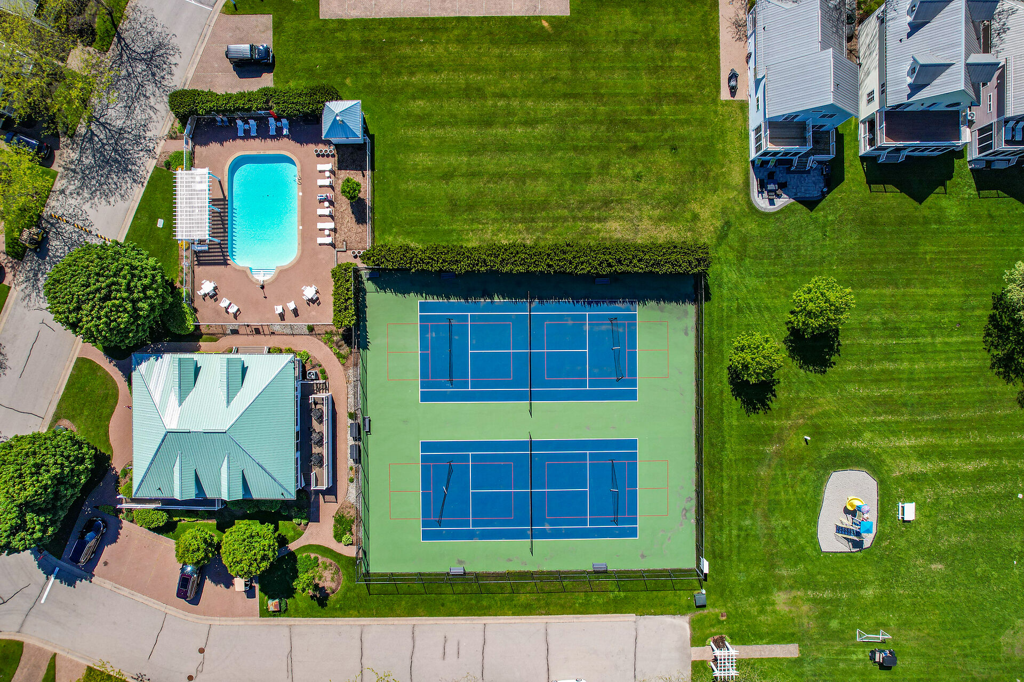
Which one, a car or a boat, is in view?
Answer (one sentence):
The image shows a car.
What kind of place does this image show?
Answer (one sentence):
This looks like a residential area.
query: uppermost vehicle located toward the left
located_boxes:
[227,43,273,67]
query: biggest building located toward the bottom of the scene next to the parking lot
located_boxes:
[129,351,308,503]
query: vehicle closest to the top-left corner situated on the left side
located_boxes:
[7,128,56,164]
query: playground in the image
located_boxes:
[834,495,873,542]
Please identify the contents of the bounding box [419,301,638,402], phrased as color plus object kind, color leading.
blue tennis court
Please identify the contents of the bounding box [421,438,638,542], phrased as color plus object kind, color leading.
blue tennis court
